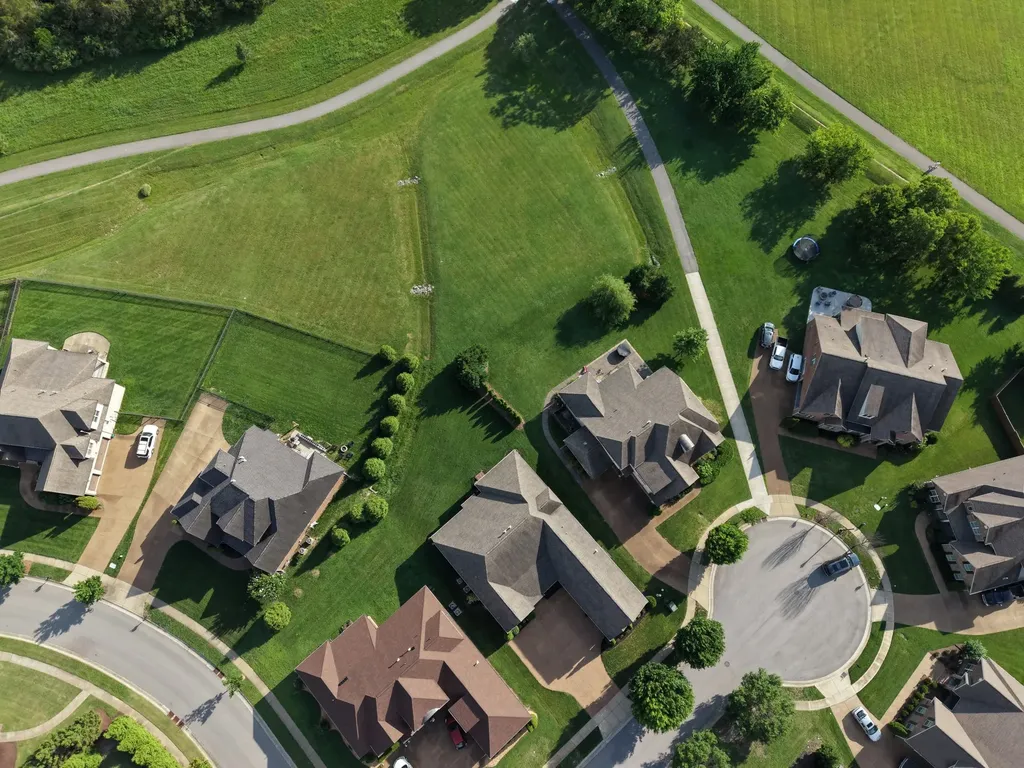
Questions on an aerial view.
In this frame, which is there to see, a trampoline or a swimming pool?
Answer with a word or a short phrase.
trampoline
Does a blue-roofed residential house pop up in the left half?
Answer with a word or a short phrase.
No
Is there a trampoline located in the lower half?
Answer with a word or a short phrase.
No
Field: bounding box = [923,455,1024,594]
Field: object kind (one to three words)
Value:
house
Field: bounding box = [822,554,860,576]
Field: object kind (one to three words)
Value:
car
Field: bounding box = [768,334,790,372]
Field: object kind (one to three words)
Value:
truck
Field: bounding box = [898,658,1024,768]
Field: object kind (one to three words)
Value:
house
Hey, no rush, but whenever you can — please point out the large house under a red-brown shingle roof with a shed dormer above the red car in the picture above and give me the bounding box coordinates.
[295,585,532,759]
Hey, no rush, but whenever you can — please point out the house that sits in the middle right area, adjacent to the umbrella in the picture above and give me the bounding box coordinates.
[794,310,963,449]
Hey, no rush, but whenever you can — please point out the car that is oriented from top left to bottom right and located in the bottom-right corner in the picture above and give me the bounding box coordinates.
[849,704,881,743]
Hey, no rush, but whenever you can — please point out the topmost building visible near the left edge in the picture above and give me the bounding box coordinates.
[0,338,126,496]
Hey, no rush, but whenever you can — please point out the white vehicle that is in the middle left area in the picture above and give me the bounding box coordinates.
[136,425,159,461]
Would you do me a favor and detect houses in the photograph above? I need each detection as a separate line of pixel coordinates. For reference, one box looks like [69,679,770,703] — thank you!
[898,658,1024,768]
[429,449,648,641]
[170,425,346,573]
[295,585,532,759]
[794,310,963,449]
[0,338,126,496]
[559,362,725,507]
[923,455,1024,594]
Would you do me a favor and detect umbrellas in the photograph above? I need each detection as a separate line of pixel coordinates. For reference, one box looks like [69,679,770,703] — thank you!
[843,294,861,311]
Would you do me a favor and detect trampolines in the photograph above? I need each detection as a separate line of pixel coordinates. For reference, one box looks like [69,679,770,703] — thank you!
[792,236,820,261]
